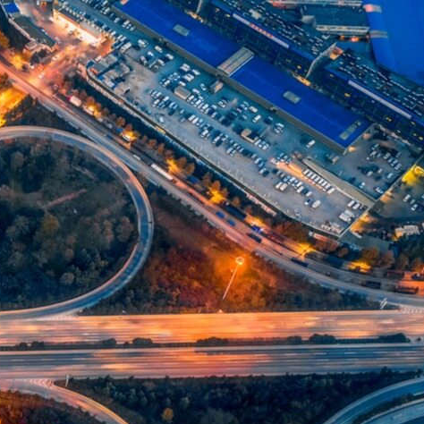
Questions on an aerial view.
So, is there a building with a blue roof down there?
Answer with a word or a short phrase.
Yes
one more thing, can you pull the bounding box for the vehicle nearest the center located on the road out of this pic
[223,203,241,216]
